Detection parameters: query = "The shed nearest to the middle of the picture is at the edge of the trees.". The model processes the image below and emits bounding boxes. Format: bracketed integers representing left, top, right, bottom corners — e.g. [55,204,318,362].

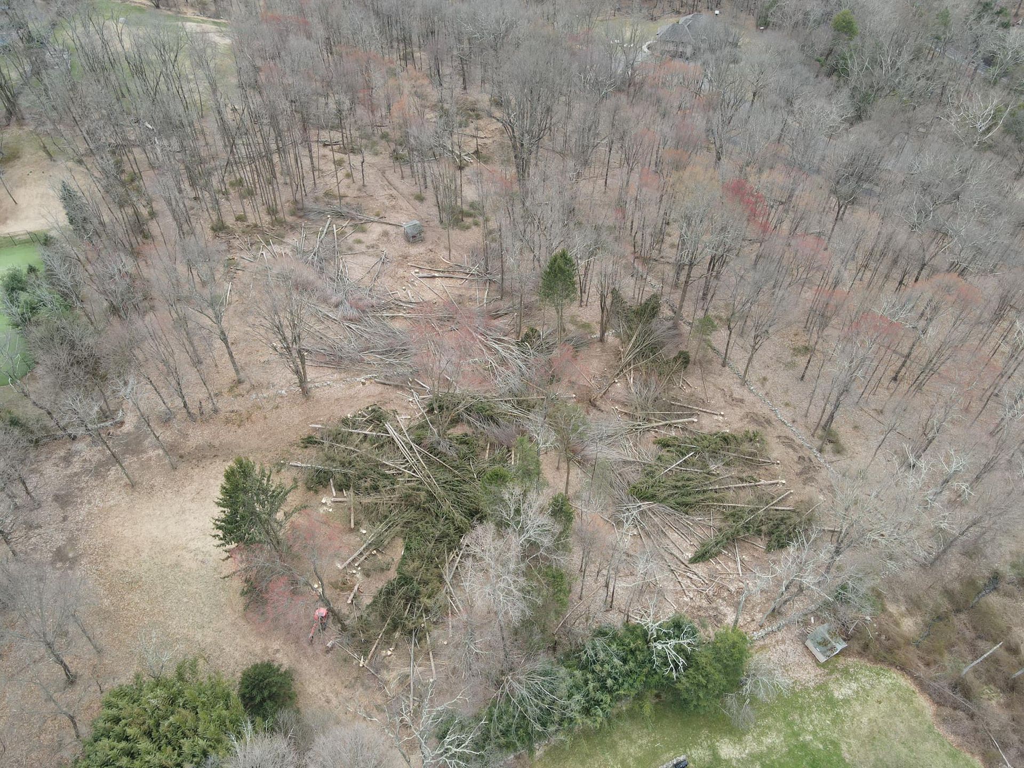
[404,223,425,245]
